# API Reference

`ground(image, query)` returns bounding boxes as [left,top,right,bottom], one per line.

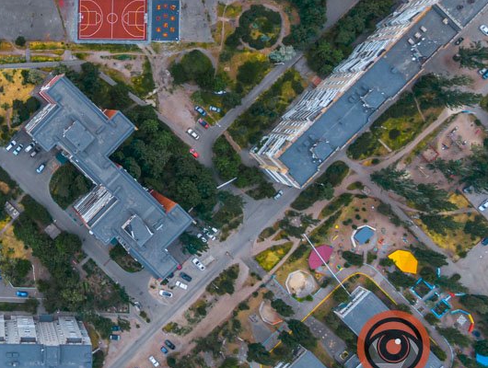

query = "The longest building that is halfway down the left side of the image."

[25,72,194,280]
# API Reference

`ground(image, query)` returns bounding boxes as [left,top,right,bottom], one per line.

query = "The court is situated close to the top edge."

[78,0,148,40]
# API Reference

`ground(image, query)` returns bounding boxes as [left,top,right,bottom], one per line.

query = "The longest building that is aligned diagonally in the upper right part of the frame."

[248,8,462,190]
